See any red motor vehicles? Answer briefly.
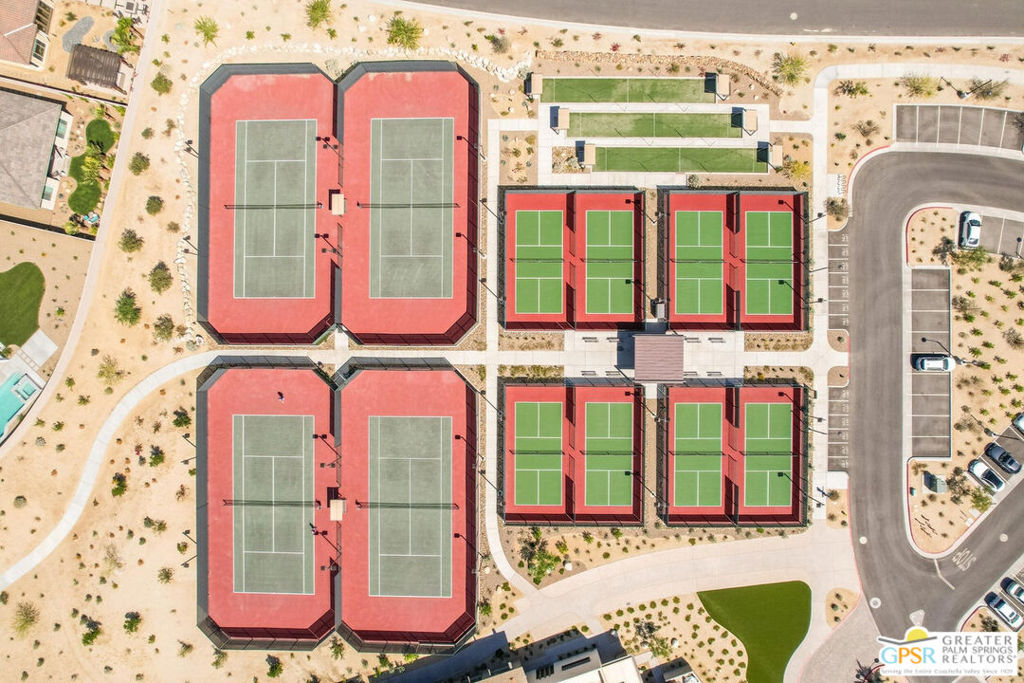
No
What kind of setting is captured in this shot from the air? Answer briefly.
sports ground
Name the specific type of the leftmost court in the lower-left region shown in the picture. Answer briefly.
tennis court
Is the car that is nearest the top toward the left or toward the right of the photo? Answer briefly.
right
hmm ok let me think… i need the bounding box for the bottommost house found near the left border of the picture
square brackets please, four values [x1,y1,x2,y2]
[0,93,72,209]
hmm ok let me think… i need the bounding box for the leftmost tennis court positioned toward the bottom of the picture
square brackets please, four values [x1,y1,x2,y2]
[208,370,341,638]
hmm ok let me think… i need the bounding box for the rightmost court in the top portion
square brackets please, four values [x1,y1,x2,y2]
[735,194,801,330]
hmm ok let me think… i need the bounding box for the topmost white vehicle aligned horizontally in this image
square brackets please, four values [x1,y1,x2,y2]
[918,355,954,372]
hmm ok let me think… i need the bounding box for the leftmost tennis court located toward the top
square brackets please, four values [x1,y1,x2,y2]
[209,73,343,342]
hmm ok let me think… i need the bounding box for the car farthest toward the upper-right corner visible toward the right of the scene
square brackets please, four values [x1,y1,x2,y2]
[961,212,983,248]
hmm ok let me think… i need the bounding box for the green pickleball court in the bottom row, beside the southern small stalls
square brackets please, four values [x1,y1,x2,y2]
[735,389,801,523]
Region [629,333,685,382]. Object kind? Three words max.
building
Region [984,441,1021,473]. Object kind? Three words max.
car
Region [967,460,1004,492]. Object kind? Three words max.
car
